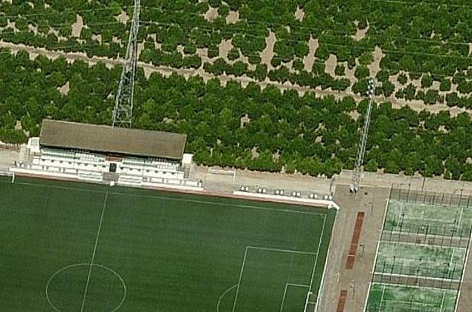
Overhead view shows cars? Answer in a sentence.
No, the picture doesn't show any car.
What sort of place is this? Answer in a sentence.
It's a sports ground.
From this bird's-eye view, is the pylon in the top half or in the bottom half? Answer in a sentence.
The pylon sits in the top half of the picture.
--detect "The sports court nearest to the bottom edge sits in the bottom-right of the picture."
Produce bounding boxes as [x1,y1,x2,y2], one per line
[363,266,460,312]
